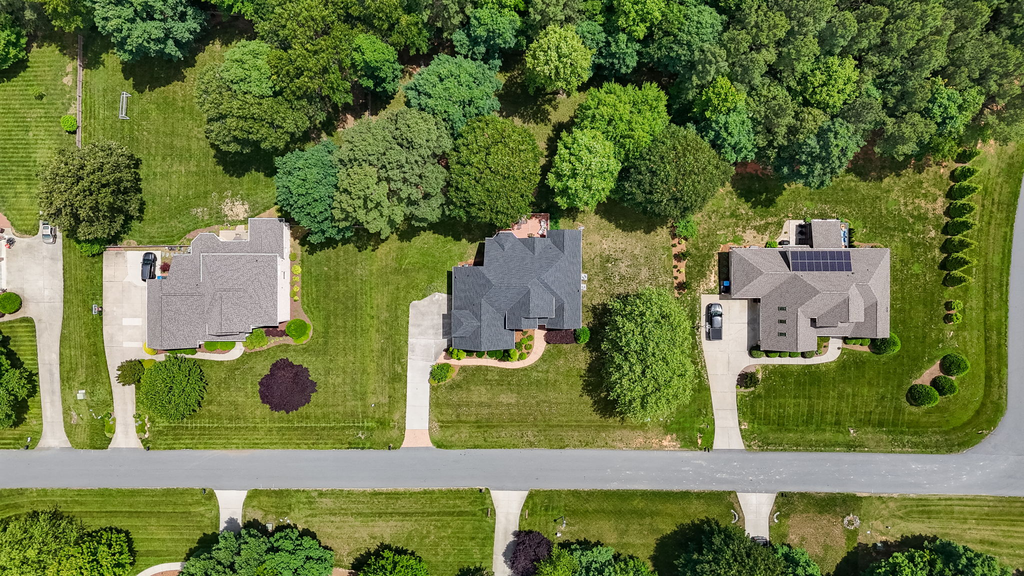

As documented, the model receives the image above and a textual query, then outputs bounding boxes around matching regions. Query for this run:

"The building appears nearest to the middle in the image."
[450,228,582,352]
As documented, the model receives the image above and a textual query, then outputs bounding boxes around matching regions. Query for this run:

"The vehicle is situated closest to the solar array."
[710,303,725,341]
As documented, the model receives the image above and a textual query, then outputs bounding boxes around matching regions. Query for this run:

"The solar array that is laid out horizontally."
[791,249,853,270]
